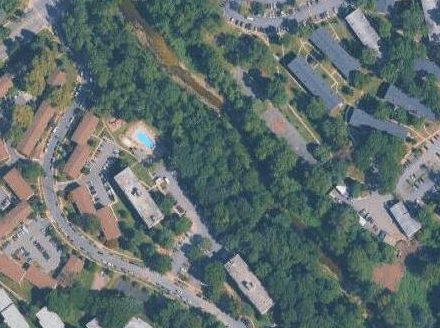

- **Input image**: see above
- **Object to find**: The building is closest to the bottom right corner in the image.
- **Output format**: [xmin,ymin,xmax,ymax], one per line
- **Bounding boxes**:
[389,201,421,236]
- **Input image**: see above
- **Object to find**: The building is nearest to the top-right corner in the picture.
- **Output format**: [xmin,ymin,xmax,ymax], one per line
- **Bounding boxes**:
[420,0,440,35]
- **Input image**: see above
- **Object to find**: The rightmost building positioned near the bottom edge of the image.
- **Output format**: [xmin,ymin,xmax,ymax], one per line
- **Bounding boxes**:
[224,256,273,315]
